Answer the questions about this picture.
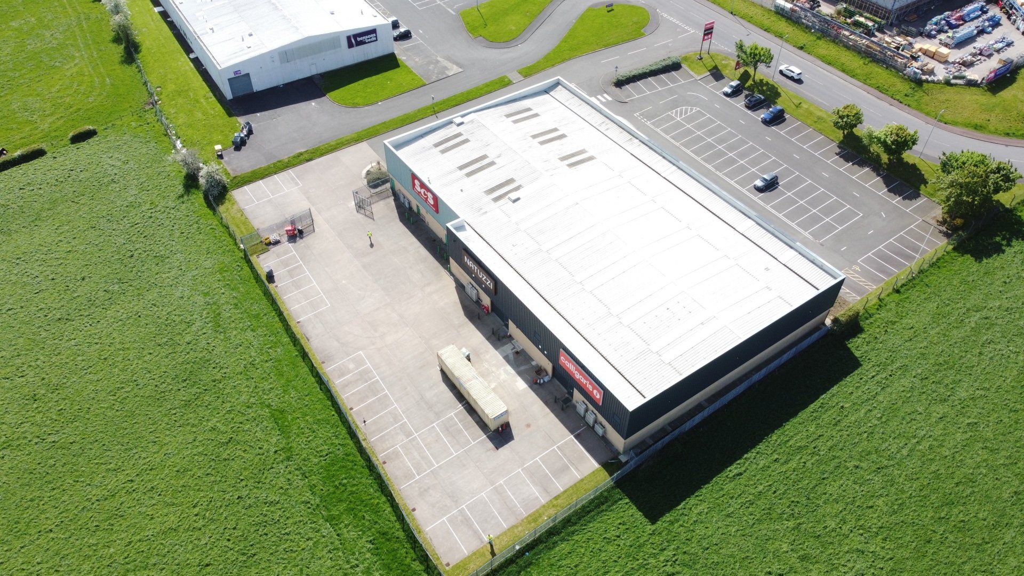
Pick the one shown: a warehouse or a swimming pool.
warehouse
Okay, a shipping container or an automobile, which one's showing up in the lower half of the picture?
shipping container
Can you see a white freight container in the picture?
Yes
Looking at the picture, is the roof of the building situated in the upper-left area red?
No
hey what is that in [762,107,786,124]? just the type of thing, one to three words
car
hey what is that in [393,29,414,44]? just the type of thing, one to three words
car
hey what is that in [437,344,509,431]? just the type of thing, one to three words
shipping container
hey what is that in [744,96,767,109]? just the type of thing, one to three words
vehicle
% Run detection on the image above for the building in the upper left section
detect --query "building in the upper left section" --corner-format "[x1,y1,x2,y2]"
[151,0,395,99]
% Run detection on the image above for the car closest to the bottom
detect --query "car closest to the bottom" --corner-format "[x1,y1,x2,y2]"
[751,170,779,191]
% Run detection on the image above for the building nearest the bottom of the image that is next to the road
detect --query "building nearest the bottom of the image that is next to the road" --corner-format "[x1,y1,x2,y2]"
[384,76,845,452]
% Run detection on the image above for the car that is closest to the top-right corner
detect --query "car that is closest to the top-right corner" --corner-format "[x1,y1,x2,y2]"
[778,67,804,82]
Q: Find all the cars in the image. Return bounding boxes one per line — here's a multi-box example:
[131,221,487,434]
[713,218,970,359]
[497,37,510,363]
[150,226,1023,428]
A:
[393,29,414,44]
[778,67,804,82]
[389,19,399,30]
[751,170,779,191]
[762,107,786,124]
[722,80,745,98]
[744,96,767,109]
